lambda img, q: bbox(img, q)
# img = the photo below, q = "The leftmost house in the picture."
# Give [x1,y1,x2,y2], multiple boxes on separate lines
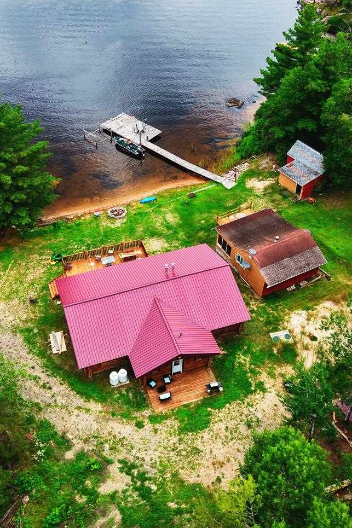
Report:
[49,239,251,413]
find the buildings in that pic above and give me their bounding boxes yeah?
[49,239,251,413]
[212,205,326,299]
[278,145,324,197]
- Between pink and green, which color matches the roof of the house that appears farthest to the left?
pink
